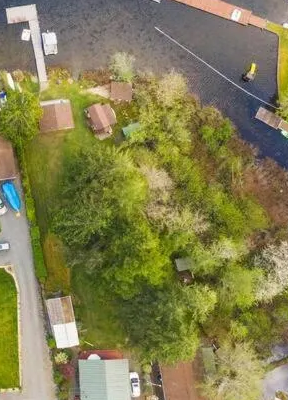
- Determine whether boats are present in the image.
Yes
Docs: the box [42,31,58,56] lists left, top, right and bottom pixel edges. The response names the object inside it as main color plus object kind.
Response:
white boat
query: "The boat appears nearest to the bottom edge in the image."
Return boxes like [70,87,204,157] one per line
[2,180,21,219]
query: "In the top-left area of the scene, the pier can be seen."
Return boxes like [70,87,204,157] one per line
[6,4,47,82]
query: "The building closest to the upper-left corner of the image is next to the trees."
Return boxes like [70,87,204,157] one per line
[38,99,74,133]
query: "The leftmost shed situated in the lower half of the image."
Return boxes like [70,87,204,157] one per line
[45,294,78,348]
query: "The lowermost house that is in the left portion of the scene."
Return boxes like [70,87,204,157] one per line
[76,349,131,400]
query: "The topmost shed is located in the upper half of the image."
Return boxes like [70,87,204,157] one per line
[108,83,132,101]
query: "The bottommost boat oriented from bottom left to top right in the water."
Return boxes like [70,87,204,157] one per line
[243,62,258,82]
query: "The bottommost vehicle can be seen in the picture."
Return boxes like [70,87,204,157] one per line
[129,373,143,400]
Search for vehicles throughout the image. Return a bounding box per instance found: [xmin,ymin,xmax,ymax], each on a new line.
[0,197,9,217]
[0,240,12,253]
[129,373,143,400]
